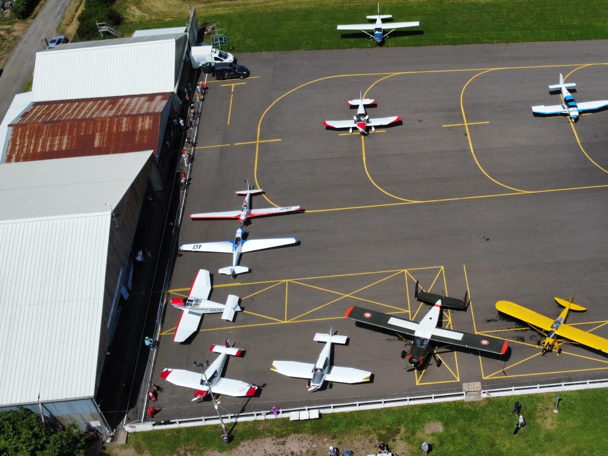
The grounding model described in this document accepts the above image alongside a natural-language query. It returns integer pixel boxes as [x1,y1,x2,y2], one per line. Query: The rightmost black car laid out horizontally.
[200,60,246,80]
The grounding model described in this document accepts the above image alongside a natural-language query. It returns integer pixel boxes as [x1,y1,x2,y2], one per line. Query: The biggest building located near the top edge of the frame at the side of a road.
[29,3,207,123]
